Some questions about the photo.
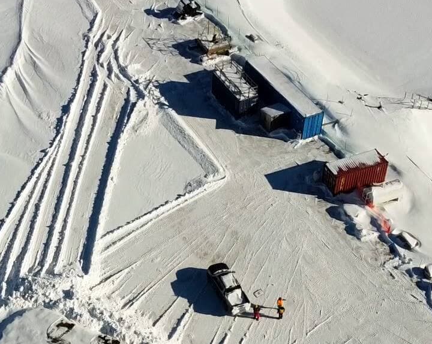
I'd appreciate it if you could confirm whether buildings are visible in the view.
No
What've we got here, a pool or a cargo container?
cargo container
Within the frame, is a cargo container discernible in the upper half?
Yes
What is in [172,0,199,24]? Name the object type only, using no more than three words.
work vehicle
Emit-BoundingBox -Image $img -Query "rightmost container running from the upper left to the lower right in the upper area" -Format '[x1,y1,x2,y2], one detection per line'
[245,55,324,136]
